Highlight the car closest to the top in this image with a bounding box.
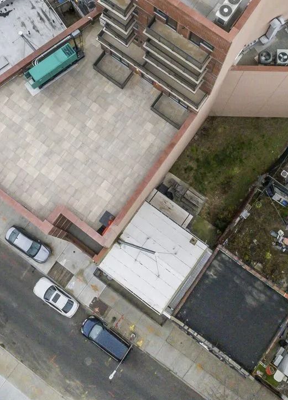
[0,220,56,269]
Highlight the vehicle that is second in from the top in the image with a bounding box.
[28,272,85,327]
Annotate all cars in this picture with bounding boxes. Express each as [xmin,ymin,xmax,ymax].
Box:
[0,220,56,269]
[28,272,85,327]
[75,311,137,371]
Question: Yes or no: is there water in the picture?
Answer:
No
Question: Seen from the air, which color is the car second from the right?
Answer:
white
